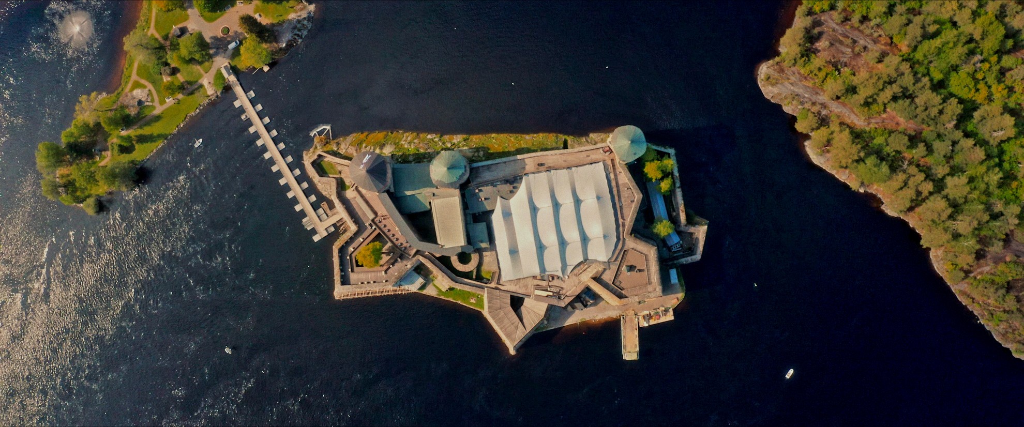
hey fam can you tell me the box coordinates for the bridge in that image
[218,63,342,243]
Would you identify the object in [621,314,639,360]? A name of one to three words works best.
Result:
pier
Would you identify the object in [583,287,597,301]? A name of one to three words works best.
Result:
vehicle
